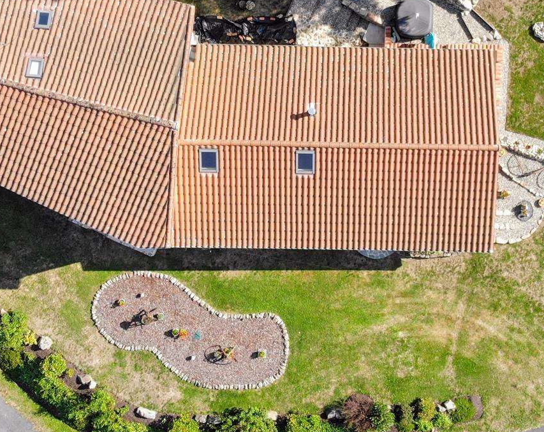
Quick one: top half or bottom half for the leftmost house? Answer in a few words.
top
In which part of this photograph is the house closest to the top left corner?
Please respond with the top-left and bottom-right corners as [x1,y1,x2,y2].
[0,0,206,250]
